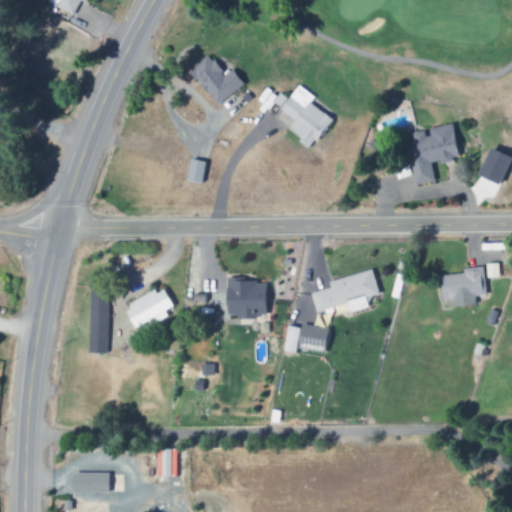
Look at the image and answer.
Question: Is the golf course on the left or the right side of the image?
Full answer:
You can find the golf course on the right side of the picture.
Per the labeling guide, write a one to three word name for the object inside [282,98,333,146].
house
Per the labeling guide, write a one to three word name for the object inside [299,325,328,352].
building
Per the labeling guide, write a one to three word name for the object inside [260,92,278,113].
camper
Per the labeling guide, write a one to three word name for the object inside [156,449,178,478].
barn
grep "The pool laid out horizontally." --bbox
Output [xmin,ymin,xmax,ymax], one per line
[382,116,414,130]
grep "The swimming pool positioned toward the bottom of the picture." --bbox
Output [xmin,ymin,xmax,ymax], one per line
[254,338,268,364]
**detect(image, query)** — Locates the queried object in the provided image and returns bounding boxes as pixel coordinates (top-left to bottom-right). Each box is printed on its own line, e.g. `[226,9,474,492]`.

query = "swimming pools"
[382,116,414,130]
[254,338,268,364]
